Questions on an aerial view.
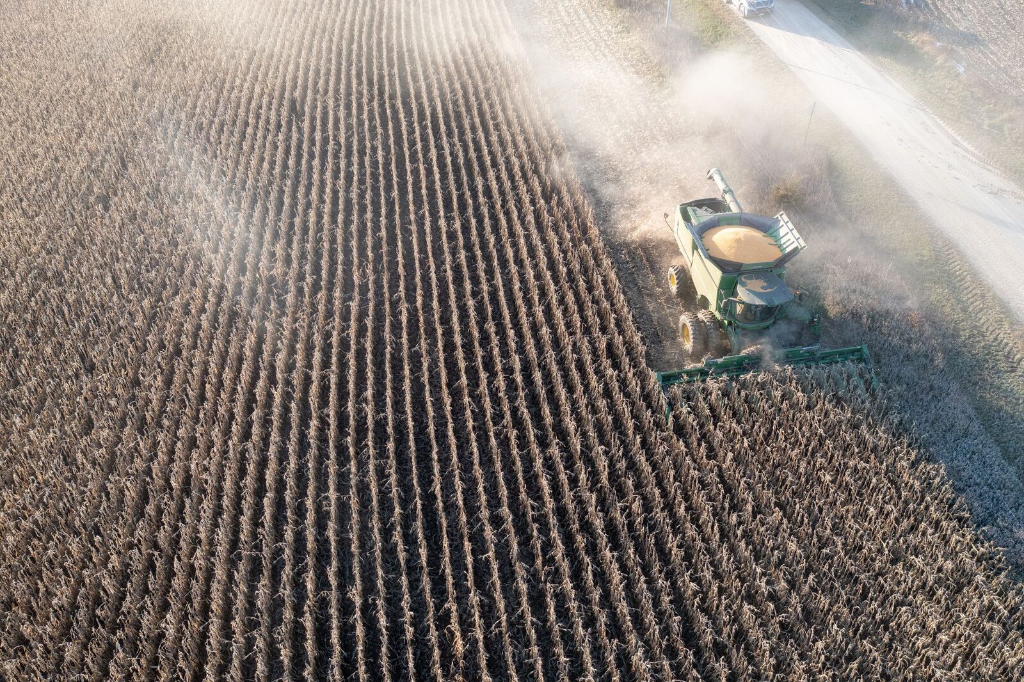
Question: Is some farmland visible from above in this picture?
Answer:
Yes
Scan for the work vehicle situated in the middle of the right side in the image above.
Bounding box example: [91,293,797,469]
[656,165,887,422]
